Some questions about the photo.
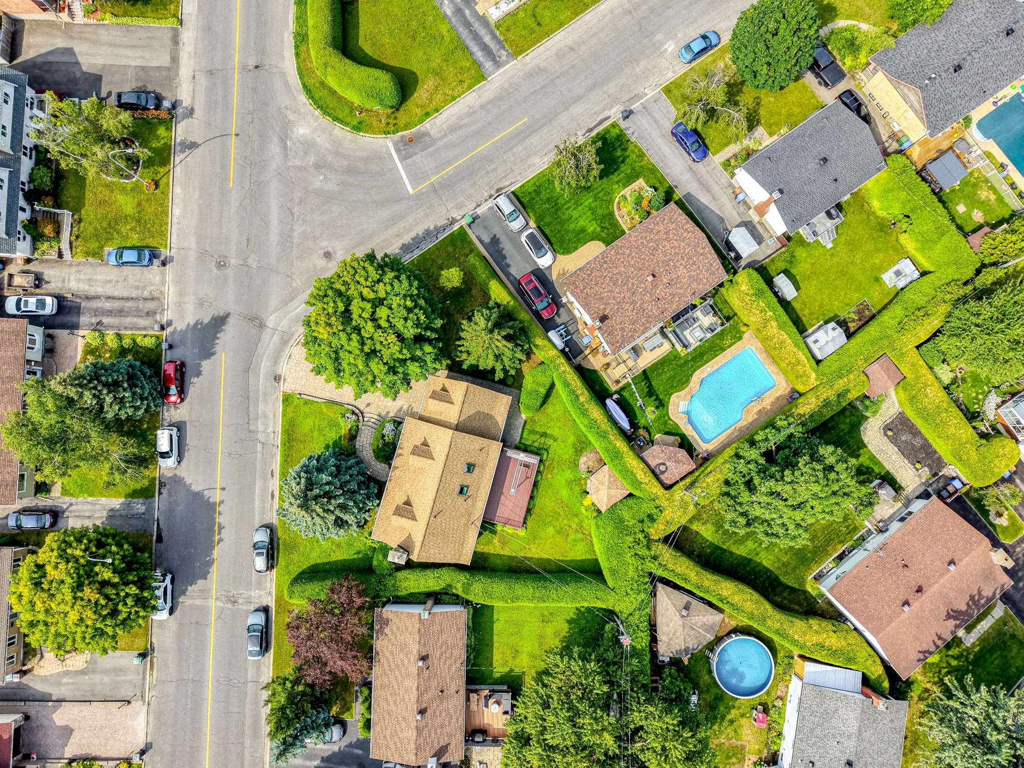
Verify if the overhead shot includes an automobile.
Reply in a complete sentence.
Yes, an automobile appears in the view.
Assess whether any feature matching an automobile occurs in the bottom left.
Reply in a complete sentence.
Yes, an automobile can be seen in the bottom left.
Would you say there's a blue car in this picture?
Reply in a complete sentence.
Yes, looking at the shot, I can spot a blue car.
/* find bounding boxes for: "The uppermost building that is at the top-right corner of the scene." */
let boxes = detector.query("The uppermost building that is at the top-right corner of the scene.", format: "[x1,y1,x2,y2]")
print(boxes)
[854,0,1024,148]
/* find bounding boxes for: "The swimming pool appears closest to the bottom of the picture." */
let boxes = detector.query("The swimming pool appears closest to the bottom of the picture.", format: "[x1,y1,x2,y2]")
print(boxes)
[696,627,776,701]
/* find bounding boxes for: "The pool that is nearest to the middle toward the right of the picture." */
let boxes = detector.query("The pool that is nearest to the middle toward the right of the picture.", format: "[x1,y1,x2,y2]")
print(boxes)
[678,346,778,444]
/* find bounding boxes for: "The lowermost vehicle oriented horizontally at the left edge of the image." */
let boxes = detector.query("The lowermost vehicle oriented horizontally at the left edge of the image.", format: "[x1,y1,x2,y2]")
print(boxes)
[6,508,56,533]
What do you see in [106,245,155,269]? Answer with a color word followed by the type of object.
blue car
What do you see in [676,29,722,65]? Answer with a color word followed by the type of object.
blue car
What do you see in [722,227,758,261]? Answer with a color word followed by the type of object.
white trailer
